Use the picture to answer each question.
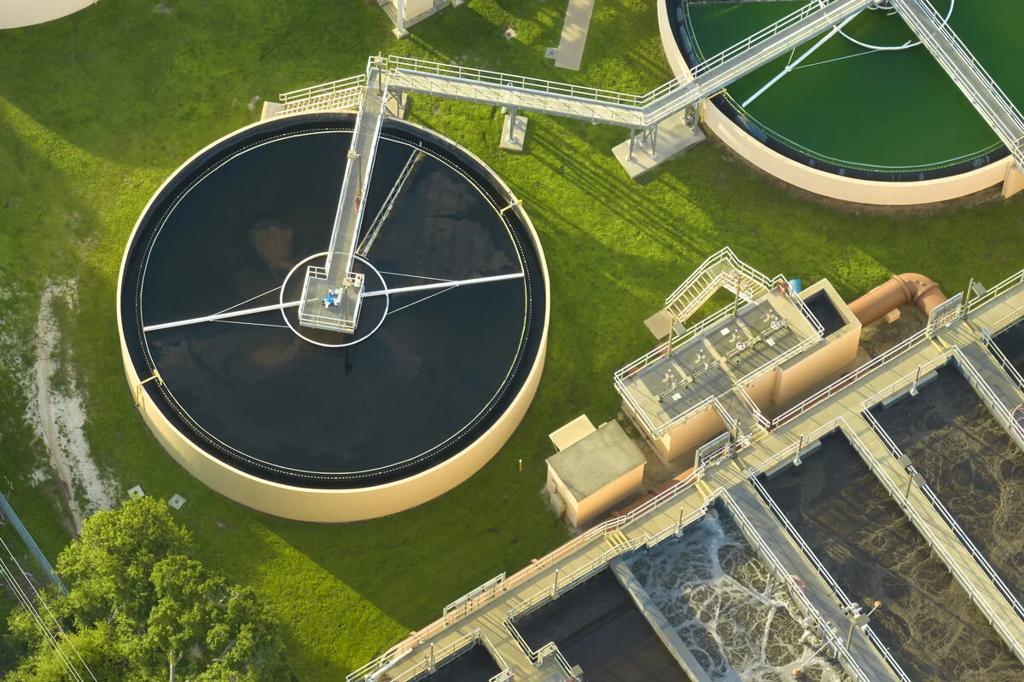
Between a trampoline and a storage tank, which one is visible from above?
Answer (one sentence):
I can see a storage tank in this picture.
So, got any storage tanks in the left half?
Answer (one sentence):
Yes, there is a storage tank in the left half.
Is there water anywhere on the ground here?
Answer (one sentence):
Yes, some water is visible.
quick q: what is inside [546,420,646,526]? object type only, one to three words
shed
